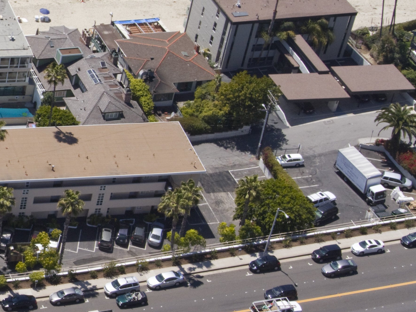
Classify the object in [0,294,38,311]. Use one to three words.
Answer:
car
